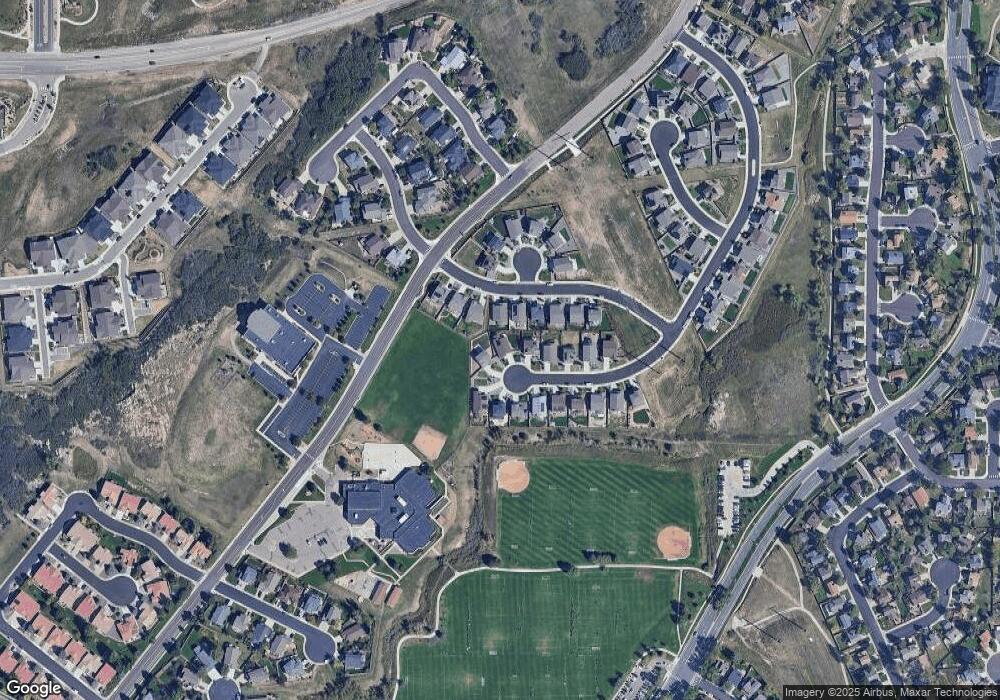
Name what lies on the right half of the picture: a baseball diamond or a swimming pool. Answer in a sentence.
The feature located on the right half of the picture is a baseball diamond.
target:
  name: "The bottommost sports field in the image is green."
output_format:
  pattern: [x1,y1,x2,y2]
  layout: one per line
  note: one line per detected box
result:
[399,568,676,700]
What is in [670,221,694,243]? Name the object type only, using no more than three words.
house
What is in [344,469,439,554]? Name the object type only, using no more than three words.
building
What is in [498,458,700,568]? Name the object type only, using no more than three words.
sports field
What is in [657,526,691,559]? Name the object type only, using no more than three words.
baseball field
